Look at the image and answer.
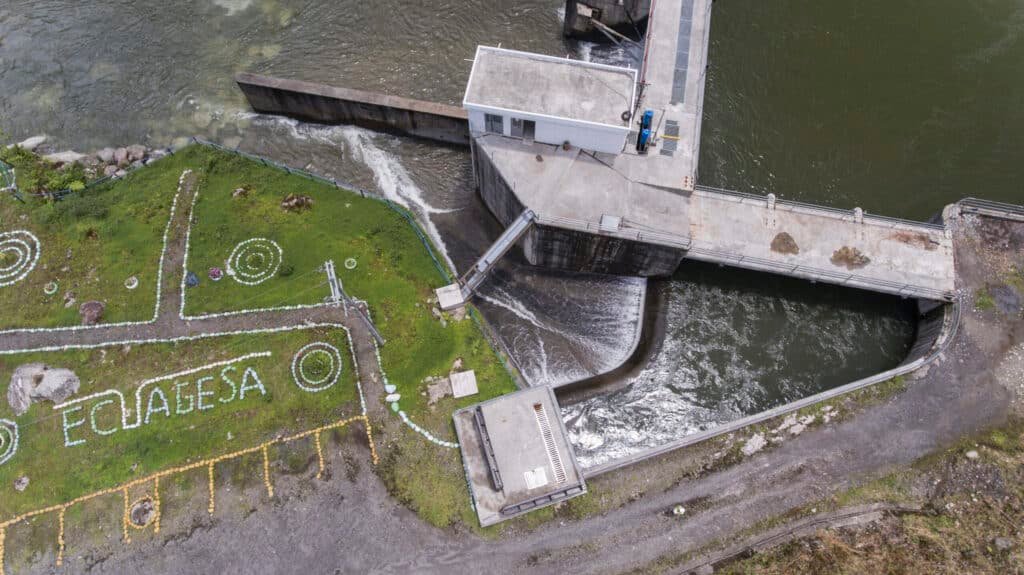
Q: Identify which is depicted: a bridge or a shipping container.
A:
bridge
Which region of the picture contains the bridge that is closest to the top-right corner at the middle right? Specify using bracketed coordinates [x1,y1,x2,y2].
[686,185,960,303]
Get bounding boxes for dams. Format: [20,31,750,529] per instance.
[236,0,714,411]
